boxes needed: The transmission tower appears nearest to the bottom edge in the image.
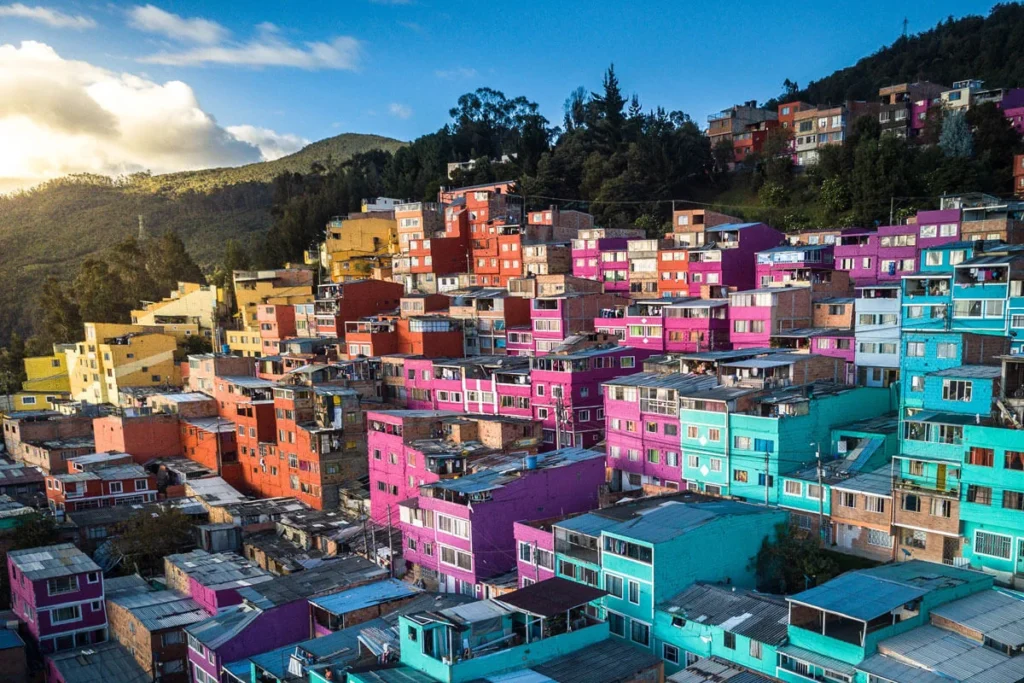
[135,214,148,245]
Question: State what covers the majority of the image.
buildings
